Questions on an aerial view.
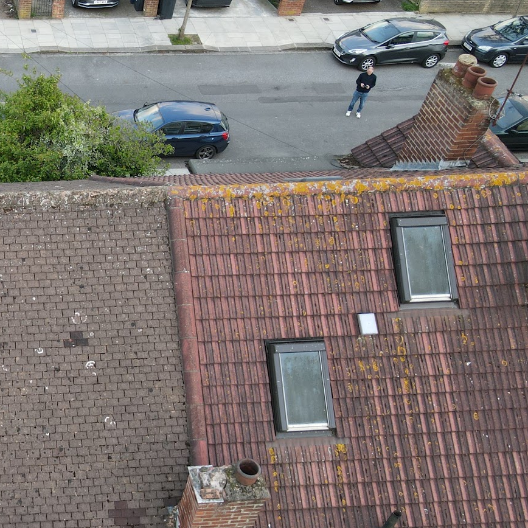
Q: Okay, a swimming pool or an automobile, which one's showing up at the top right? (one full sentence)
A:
You can see an automobile at the top right.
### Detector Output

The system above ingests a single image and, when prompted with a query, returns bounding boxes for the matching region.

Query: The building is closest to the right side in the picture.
[98,54,528,528]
